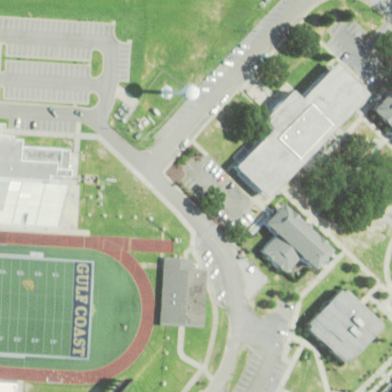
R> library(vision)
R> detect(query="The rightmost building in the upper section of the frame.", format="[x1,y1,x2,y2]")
[374,96,392,128]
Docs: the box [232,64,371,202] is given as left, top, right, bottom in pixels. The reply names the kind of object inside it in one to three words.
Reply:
building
